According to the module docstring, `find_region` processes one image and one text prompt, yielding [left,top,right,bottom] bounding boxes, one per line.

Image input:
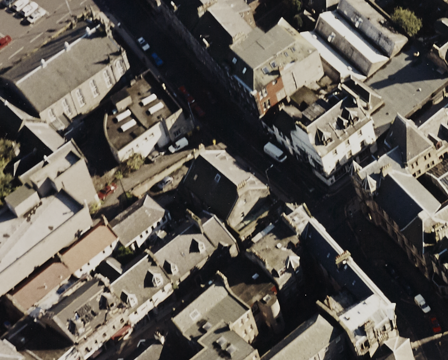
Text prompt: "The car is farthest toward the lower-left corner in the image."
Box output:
[98,184,116,198]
